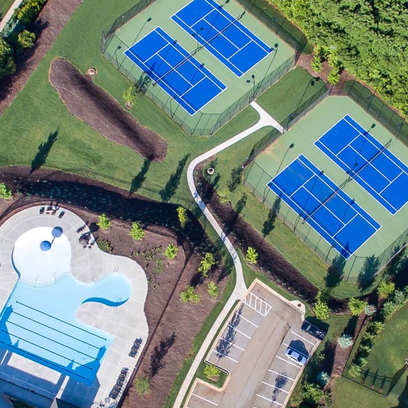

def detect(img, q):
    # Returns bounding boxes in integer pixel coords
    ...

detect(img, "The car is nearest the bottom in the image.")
[286,346,310,365]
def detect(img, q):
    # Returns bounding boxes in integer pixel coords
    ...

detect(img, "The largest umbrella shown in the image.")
[75,232,90,246]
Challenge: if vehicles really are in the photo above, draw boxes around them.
[286,346,310,365]
[298,319,327,341]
